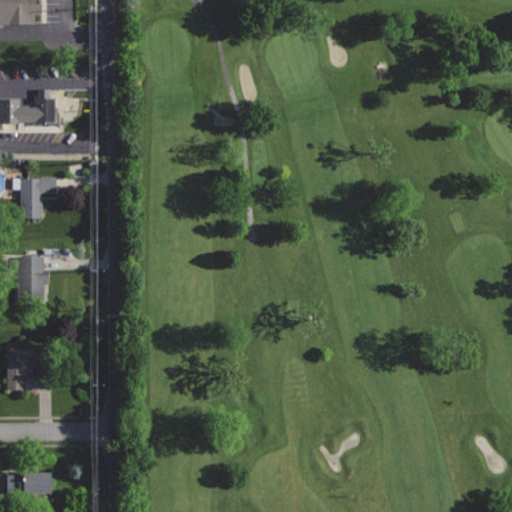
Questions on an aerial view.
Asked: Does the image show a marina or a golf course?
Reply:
golf course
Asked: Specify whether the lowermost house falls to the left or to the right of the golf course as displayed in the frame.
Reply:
on its left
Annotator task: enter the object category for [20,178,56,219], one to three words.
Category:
house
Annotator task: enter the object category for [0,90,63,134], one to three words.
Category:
building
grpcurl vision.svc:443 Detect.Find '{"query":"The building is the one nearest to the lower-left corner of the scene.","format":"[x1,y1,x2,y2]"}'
[6,472,52,496]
